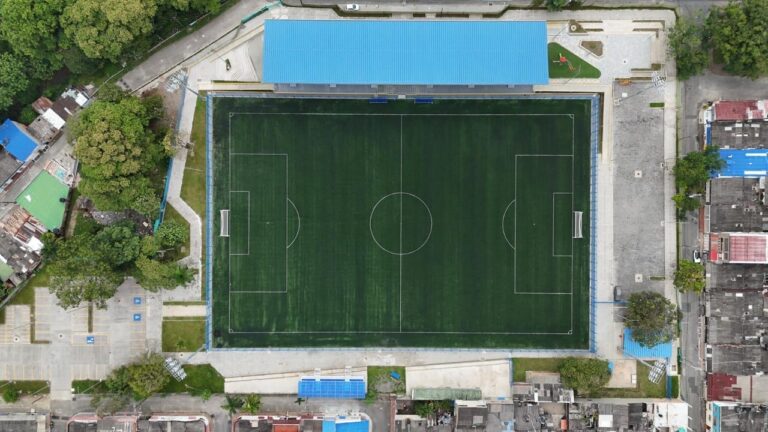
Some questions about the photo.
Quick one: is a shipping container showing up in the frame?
No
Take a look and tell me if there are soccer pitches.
Yes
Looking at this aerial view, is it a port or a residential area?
residential area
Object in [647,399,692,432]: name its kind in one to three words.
house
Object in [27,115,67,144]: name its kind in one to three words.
house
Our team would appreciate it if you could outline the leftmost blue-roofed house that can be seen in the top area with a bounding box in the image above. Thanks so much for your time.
[0,118,47,161]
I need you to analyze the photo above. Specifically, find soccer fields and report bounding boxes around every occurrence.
[212,98,590,349]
